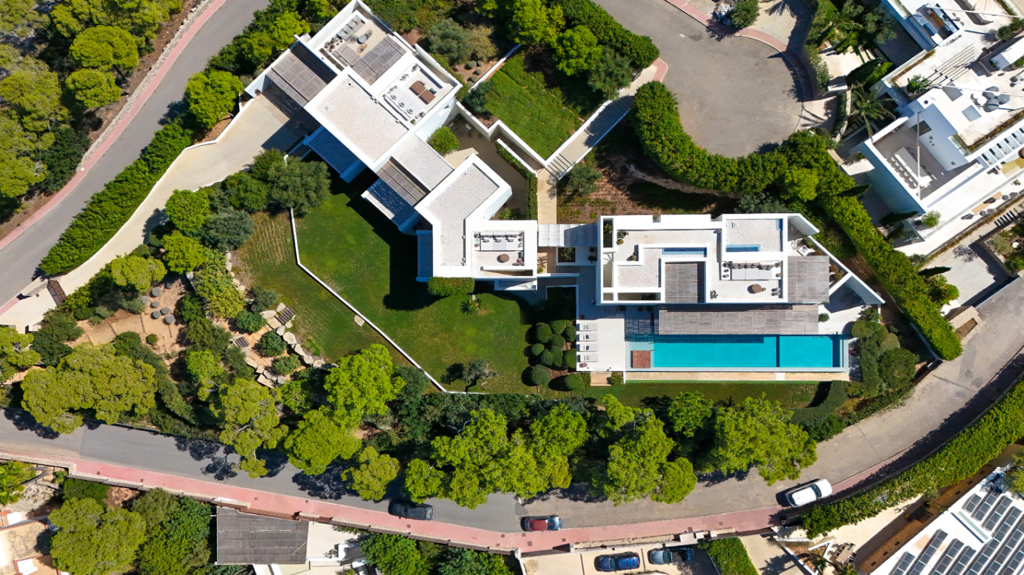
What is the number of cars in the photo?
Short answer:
5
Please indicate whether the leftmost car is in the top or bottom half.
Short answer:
bottom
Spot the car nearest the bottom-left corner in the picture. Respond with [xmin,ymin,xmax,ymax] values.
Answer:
[389,496,435,523]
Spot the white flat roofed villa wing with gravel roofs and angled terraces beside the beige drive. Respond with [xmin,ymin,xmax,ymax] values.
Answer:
[245,0,467,229]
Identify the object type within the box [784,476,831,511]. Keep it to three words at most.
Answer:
car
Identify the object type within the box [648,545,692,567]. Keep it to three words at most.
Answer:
car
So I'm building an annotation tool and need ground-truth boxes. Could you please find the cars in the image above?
[595,550,638,573]
[784,476,831,511]
[389,496,435,523]
[648,545,692,567]
[522,512,561,534]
